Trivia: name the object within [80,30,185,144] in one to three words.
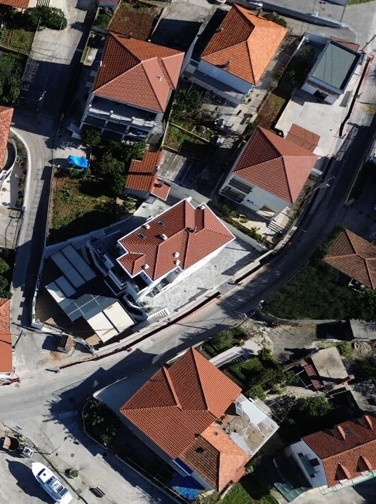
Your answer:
house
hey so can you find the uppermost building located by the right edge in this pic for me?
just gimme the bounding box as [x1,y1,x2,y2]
[296,39,364,110]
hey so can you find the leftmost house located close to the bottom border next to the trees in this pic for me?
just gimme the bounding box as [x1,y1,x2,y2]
[113,346,281,494]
